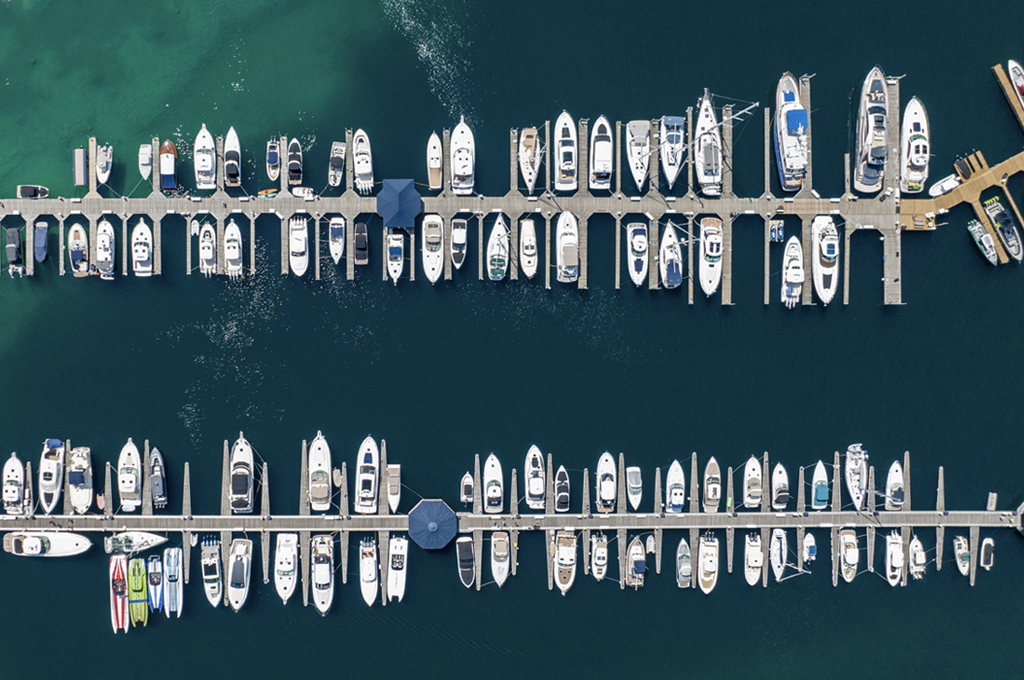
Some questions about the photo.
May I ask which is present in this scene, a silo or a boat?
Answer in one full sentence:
The one in the frame is a boat.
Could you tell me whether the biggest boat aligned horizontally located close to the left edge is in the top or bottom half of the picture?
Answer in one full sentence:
The bottom half of the photo is where the biggest boat aligned horizontally located close to the left edge is.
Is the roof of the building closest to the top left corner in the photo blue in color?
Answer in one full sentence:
Yes, the roof of the building closest to the top left corner is indeed blue.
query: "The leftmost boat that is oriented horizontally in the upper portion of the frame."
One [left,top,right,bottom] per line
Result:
[18,185,49,198]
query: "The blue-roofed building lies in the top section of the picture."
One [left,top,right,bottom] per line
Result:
[374,178,424,229]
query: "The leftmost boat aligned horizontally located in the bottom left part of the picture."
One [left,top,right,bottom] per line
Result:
[5,530,91,556]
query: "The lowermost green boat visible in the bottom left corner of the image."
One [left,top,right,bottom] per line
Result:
[129,557,149,627]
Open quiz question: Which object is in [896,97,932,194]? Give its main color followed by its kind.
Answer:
white boat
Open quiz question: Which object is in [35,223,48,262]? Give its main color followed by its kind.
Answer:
blue boat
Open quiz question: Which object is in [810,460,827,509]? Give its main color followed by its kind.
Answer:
white boat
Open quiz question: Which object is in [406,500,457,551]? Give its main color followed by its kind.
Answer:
blue gazebo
